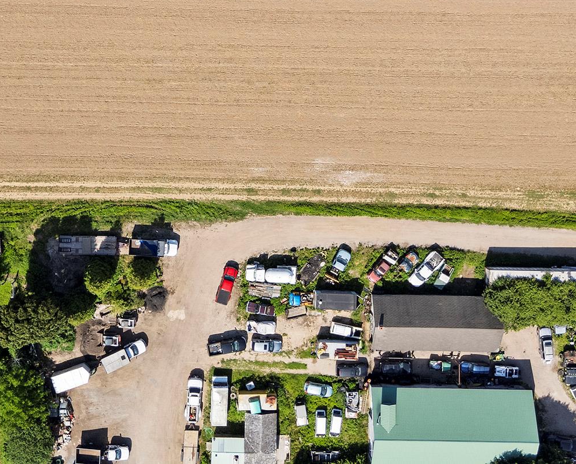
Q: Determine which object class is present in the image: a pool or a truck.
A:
truck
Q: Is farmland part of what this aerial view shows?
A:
Yes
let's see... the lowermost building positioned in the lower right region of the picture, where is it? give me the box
[367,379,539,464]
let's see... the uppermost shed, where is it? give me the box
[371,293,502,352]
